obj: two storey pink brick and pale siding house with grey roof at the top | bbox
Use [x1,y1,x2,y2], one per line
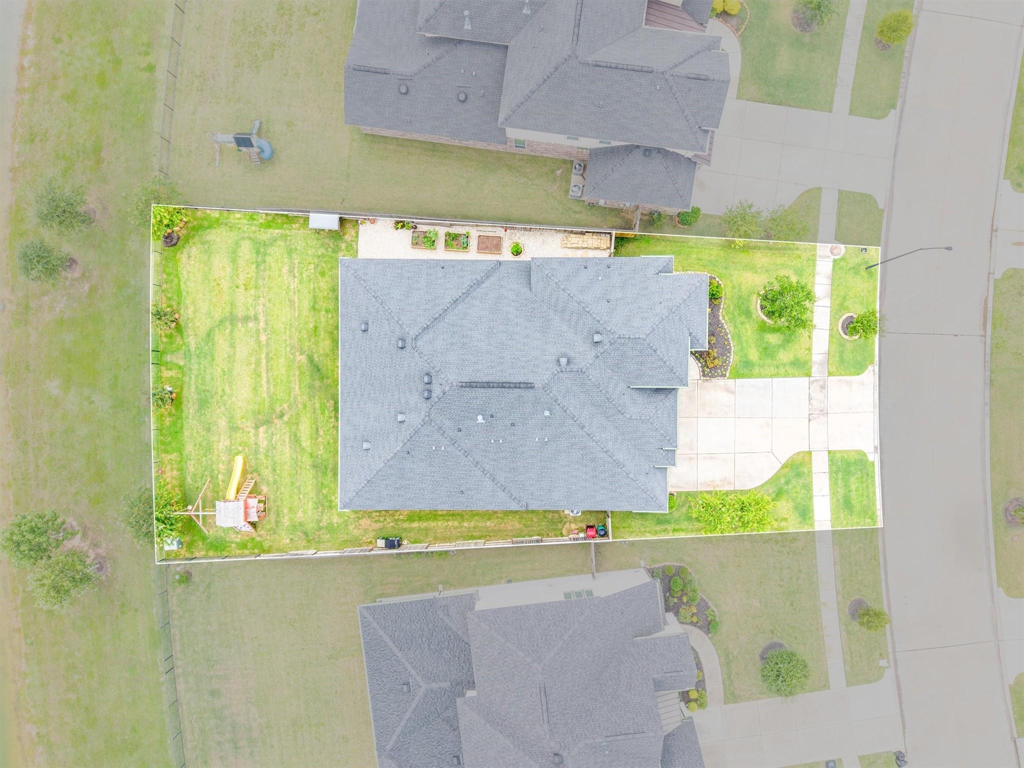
[344,0,731,218]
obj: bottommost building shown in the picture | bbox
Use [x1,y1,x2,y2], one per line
[356,564,703,768]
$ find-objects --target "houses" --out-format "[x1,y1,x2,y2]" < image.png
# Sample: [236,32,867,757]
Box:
[344,0,731,218]
[337,255,710,514]
[356,564,703,768]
